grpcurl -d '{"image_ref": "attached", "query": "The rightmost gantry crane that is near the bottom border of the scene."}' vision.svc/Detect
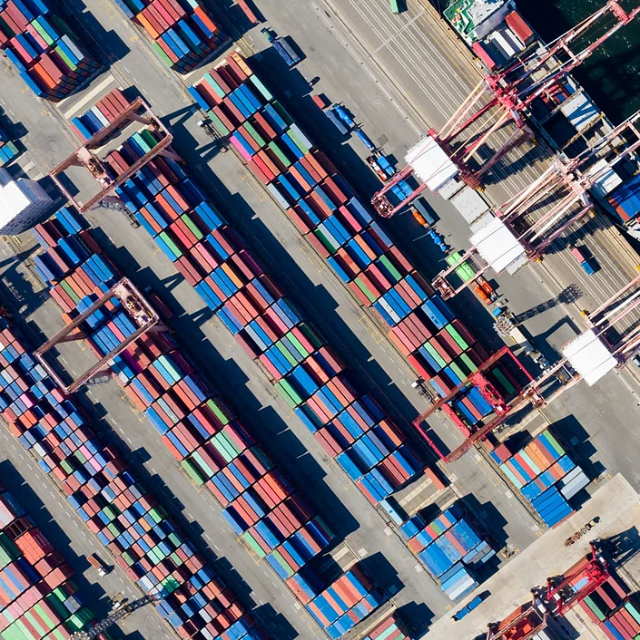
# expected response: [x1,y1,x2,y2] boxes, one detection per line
[540,536,610,620]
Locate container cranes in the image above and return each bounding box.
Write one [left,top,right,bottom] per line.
[360,0,640,225]
[425,105,640,305]
[540,536,610,620]
[484,582,552,640]
[34,276,166,394]
[48,94,195,216]
[412,344,535,462]
[519,262,640,416]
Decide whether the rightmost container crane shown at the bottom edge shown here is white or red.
red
